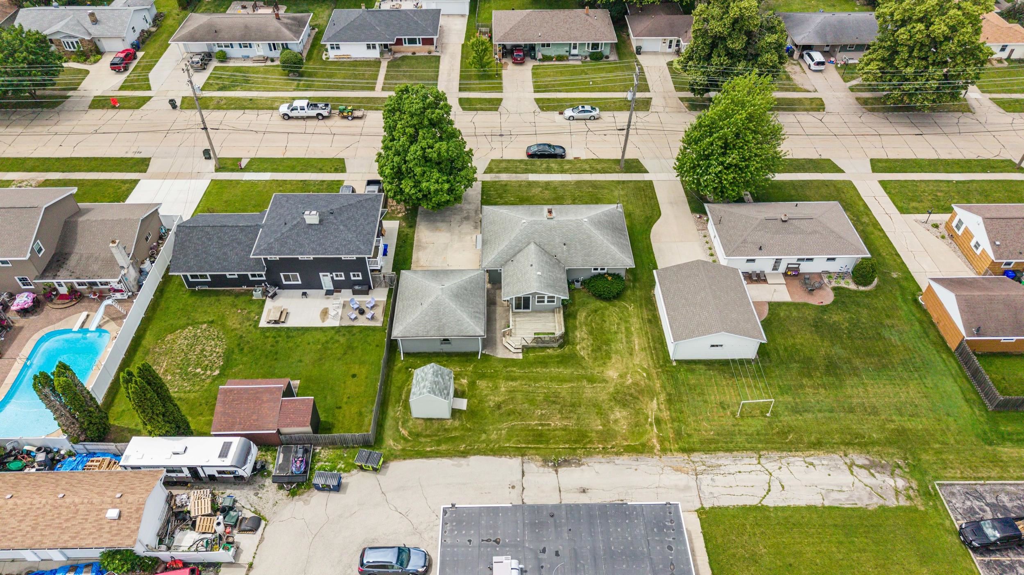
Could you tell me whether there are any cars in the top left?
Yes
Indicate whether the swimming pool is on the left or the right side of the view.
left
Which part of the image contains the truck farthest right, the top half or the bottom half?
bottom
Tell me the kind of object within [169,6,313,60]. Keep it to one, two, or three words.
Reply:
house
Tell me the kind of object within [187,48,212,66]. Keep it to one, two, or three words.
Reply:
car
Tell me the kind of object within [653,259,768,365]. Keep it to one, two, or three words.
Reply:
building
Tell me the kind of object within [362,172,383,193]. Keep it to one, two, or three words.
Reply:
truck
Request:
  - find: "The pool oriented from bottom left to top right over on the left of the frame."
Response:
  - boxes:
[0,328,110,438]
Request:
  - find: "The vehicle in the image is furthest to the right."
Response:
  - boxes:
[958,515,1024,558]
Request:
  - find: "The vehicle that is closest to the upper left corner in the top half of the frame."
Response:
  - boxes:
[108,46,137,67]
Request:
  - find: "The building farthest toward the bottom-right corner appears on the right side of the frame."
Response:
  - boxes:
[920,277,1024,353]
